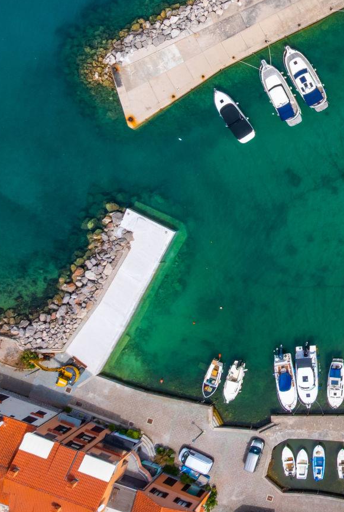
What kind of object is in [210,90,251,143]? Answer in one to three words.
boat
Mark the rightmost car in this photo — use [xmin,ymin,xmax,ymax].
[242,436,265,473]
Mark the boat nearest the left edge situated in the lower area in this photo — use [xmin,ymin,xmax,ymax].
[203,356,222,403]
